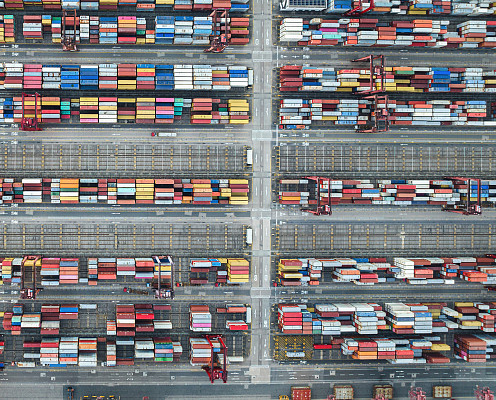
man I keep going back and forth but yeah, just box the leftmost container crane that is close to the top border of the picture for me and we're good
[60,9,84,56]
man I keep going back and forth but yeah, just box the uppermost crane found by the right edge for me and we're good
[441,177,483,216]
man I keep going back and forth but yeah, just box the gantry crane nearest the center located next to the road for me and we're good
[299,177,331,217]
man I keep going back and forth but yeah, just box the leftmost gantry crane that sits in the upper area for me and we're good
[21,93,47,134]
